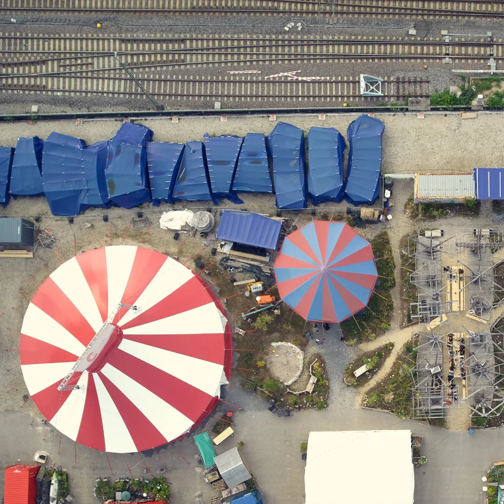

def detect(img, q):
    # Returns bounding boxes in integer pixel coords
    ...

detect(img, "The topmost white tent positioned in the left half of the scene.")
[13,227,255,472]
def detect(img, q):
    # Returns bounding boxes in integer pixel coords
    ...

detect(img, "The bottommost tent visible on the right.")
[305,427,413,504]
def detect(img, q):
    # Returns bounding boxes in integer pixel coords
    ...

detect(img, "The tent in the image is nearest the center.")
[258,211,392,343]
